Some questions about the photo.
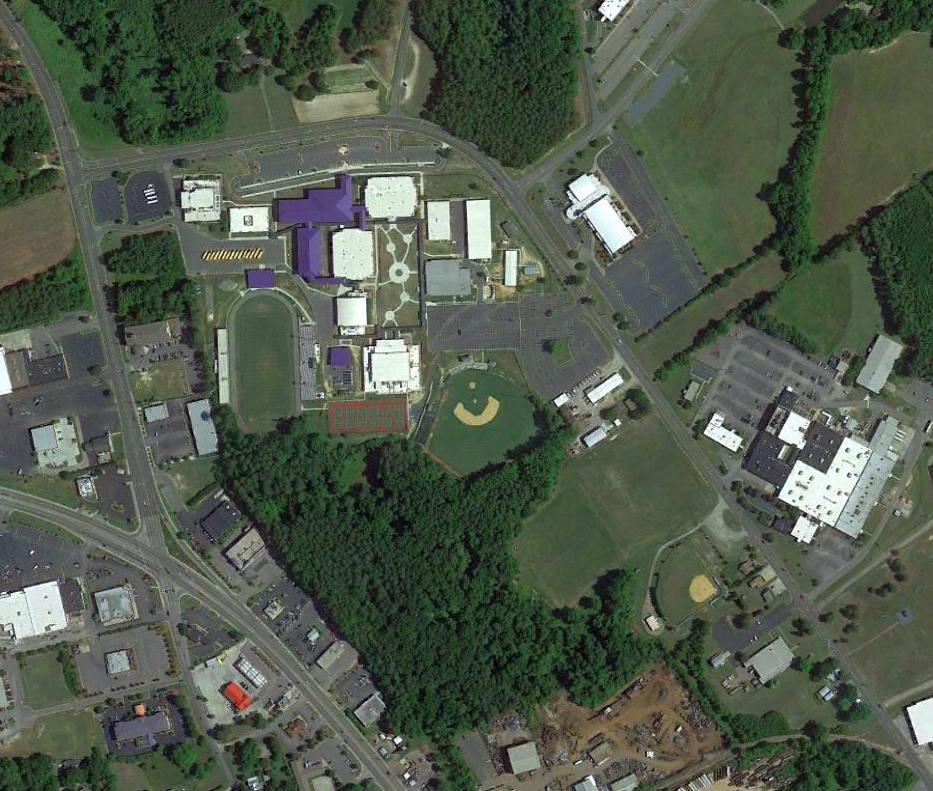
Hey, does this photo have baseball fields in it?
Yes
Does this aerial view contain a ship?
No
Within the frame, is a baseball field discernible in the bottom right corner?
Yes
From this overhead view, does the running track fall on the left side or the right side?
left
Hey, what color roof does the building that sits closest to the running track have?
purple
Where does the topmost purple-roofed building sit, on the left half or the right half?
left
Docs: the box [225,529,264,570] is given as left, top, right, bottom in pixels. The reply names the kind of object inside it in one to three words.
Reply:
building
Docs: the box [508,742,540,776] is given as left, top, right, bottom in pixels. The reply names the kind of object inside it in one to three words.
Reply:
shed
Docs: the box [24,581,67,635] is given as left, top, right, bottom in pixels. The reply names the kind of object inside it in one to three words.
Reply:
building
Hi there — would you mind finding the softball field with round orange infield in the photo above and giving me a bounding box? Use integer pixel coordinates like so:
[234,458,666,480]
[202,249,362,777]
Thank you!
[652,539,718,626]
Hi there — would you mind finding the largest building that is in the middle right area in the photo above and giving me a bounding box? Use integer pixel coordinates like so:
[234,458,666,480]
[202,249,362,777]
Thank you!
[744,389,901,539]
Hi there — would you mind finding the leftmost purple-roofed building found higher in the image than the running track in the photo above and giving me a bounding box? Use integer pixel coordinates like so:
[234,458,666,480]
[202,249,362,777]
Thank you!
[248,268,275,288]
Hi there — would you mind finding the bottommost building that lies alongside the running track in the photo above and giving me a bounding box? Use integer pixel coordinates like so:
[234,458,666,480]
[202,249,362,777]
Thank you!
[187,398,216,457]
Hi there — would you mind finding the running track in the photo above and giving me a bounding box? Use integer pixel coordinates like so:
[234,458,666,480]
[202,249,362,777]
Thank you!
[226,288,300,434]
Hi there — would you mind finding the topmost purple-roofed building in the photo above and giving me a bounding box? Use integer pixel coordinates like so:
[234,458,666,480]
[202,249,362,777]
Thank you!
[279,174,353,222]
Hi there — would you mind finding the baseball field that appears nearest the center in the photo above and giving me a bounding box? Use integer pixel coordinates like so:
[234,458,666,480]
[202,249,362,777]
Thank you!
[422,366,538,478]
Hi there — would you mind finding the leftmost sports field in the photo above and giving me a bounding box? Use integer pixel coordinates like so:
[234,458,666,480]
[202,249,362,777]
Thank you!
[233,294,293,426]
